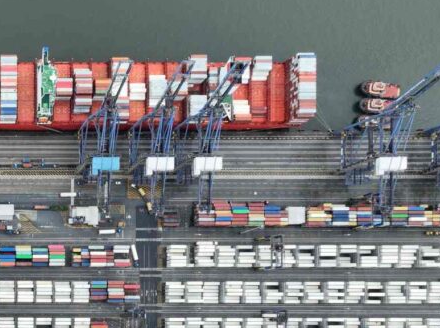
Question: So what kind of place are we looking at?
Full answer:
What you see here is a port.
